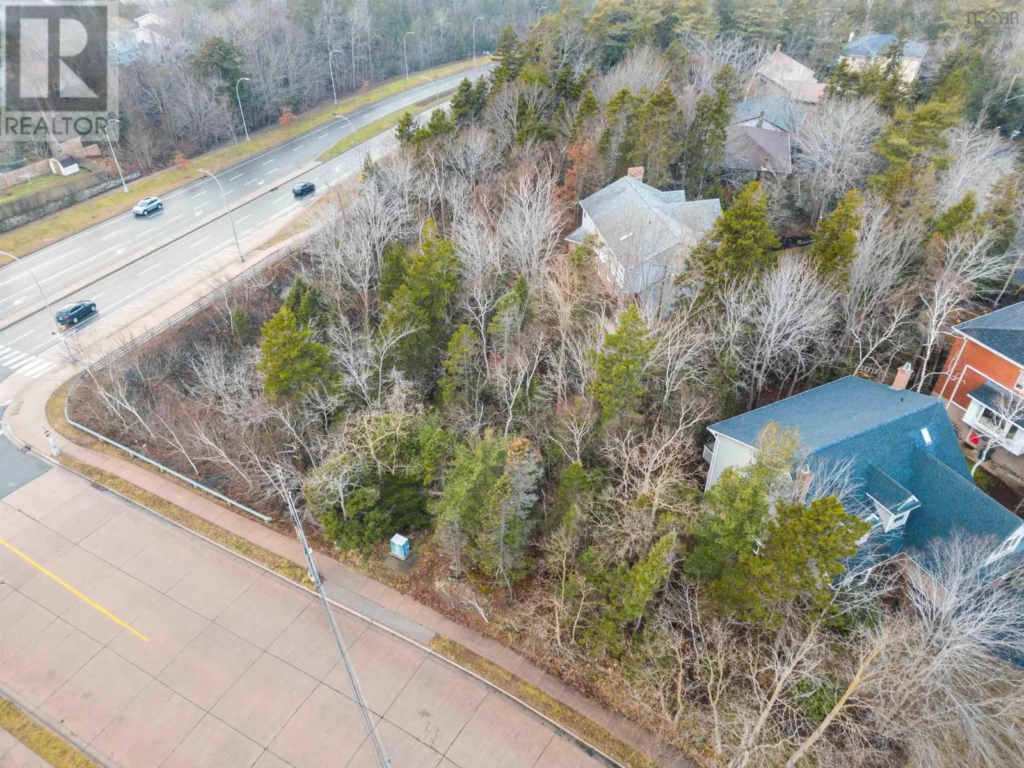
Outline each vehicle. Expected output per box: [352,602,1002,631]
[131,197,164,218]
[53,304,99,329]
[289,184,316,200]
